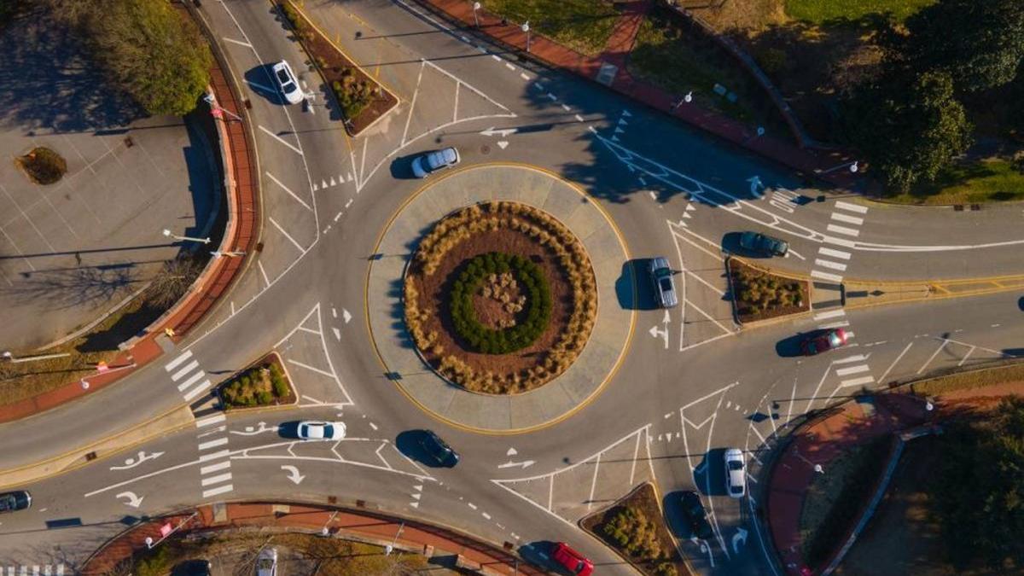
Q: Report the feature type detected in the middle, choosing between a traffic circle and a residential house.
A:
traffic circle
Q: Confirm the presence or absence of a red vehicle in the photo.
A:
Yes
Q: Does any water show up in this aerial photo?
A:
No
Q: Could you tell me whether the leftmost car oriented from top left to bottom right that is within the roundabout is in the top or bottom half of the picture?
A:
bottom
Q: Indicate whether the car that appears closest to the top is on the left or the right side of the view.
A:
left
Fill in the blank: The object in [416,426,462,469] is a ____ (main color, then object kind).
black car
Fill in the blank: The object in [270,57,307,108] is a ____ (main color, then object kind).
white car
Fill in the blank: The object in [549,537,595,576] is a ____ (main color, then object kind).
red car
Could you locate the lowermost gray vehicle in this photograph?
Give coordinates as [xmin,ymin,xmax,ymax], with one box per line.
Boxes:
[254,547,278,576]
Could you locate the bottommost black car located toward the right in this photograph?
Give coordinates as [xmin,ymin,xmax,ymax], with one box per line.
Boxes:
[679,490,713,541]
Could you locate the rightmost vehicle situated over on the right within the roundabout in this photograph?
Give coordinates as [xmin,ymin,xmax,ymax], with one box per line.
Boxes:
[648,256,680,310]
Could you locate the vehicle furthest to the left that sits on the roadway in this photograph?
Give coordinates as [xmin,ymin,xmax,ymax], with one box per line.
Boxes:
[0,487,38,512]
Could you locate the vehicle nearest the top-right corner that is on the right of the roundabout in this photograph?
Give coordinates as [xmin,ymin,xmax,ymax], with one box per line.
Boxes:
[738,232,790,259]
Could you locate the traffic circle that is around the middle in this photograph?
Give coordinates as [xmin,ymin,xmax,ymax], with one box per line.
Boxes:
[320,118,682,479]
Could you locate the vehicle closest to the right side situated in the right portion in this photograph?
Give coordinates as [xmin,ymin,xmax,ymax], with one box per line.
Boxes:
[798,325,848,356]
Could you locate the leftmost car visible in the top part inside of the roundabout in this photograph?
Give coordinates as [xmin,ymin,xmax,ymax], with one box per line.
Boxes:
[410,146,463,178]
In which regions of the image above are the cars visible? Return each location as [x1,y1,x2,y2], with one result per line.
[416,426,462,469]
[270,57,307,108]
[679,490,713,541]
[549,537,595,576]
[738,232,790,259]
[798,325,848,356]
[0,487,38,512]
[254,547,278,576]
[297,419,347,441]
[410,146,463,178]
[648,256,680,310]
[721,447,747,498]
